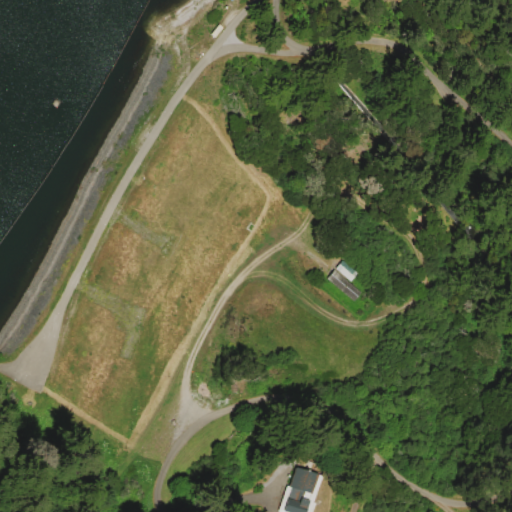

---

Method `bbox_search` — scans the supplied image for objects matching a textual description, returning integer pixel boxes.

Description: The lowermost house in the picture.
[279,466,324,512]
